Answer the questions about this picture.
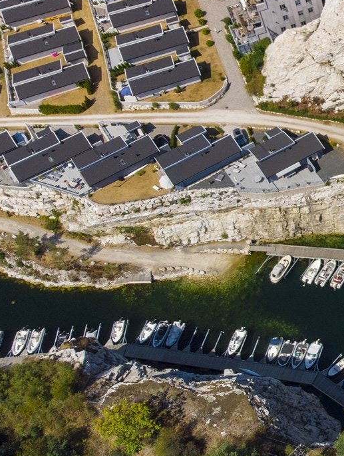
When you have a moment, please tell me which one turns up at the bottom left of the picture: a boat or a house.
boat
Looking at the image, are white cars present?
No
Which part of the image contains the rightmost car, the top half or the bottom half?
top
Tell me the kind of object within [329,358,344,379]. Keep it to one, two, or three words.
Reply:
boat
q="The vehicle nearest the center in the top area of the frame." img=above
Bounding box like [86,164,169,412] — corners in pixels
[152,131,170,151]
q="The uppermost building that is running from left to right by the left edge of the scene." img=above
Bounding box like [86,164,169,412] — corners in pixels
[0,0,75,33]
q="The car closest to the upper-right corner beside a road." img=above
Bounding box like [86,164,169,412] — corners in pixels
[230,127,249,147]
